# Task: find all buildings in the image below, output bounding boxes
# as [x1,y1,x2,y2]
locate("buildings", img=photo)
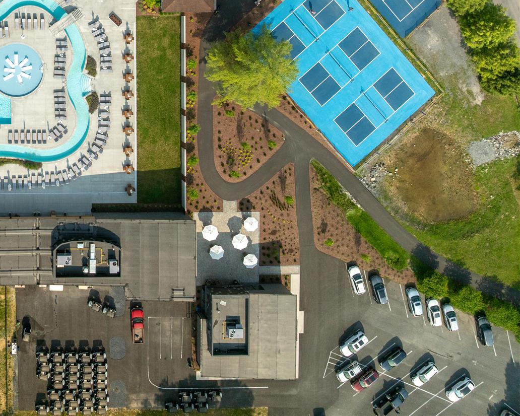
[0,213,197,302]
[161,0,213,12]
[197,280,297,381]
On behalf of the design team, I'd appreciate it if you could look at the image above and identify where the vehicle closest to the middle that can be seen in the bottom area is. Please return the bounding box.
[346,264,366,295]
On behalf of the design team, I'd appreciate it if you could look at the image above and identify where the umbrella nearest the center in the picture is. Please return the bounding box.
[243,217,257,231]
